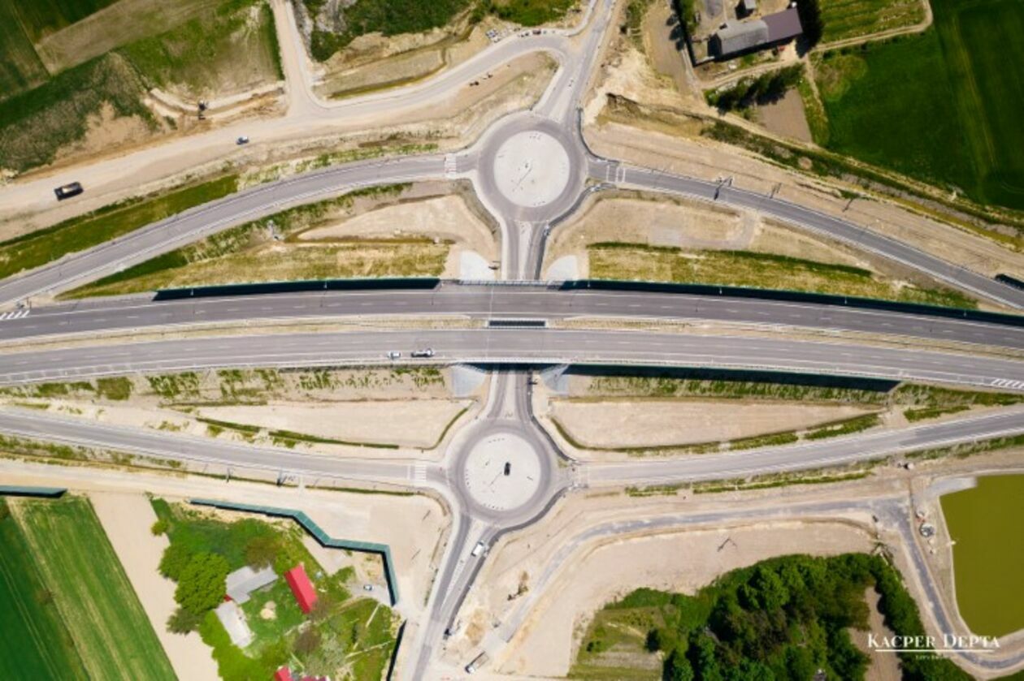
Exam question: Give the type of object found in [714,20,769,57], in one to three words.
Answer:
barn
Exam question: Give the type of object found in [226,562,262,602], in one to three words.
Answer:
house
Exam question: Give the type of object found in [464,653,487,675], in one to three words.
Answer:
truck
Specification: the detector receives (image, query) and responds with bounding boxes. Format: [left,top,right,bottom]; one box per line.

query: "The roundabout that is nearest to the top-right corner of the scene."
[477,77,588,280]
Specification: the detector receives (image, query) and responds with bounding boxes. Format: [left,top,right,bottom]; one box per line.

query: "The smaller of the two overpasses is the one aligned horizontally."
[453,325,571,364]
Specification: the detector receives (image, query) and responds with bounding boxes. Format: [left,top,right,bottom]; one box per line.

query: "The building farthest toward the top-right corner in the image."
[762,6,799,47]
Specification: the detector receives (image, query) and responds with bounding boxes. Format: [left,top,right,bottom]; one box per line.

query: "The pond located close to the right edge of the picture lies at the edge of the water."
[943,476,1024,634]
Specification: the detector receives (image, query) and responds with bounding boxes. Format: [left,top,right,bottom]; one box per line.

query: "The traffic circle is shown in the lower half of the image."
[440,369,558,616]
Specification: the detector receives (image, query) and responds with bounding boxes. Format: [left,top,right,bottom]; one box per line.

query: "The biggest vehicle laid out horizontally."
[51,182,79,197]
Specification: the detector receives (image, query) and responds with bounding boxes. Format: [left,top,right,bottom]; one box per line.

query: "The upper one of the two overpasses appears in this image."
[457,278,580,321]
